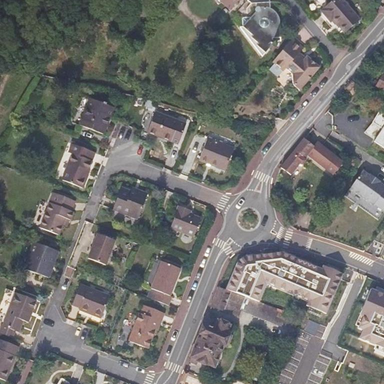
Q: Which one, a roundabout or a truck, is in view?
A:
roundabout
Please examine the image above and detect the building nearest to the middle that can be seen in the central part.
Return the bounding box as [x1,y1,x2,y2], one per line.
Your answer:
[170,203,204,236]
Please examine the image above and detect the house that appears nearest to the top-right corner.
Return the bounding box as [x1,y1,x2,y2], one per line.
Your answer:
[322,0,362,34]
